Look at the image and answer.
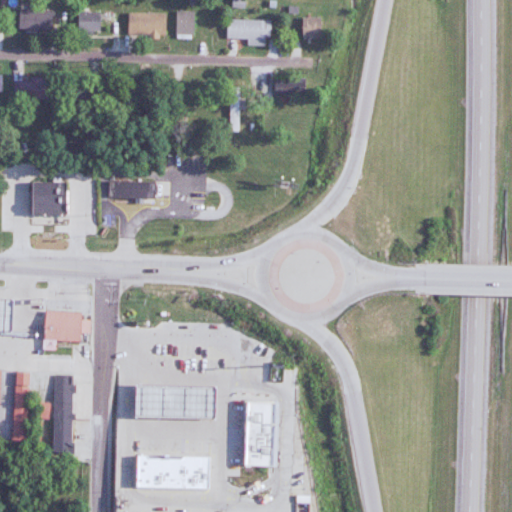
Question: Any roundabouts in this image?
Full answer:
Yes, a roundabout is visible in the scene.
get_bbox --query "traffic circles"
[260,229,354,323]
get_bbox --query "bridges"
[408,264,512,296]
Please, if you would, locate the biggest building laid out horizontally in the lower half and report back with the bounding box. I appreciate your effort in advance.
[136,455,208,489]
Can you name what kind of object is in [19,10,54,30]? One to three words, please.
house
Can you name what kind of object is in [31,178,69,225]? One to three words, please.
building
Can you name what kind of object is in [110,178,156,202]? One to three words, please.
building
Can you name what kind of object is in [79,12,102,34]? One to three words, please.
house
